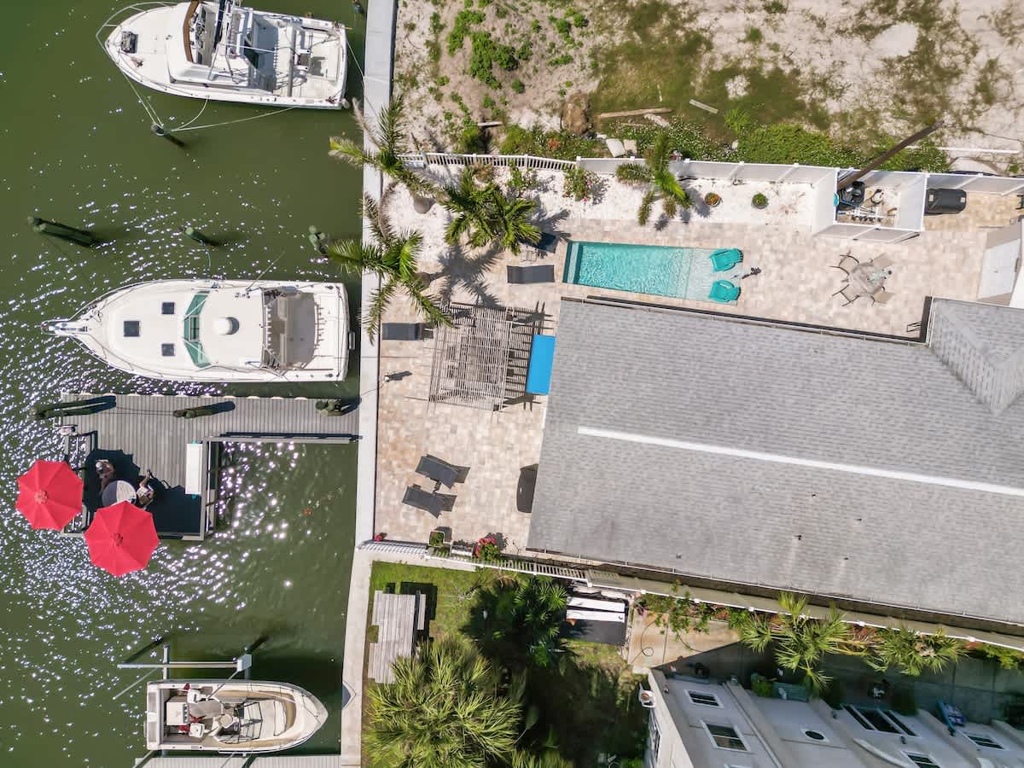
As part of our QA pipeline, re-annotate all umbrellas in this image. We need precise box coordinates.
[17,461,92,528]
[87,500,160,575]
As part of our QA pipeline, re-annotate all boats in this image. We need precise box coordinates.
[96,0,352,115]
[143,677,329,754]
[41,251,354,384]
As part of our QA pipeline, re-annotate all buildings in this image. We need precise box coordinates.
[526,295,1024,627]
[645,666,1024,768]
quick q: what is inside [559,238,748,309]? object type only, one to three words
swimming pool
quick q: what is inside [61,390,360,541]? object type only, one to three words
pier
